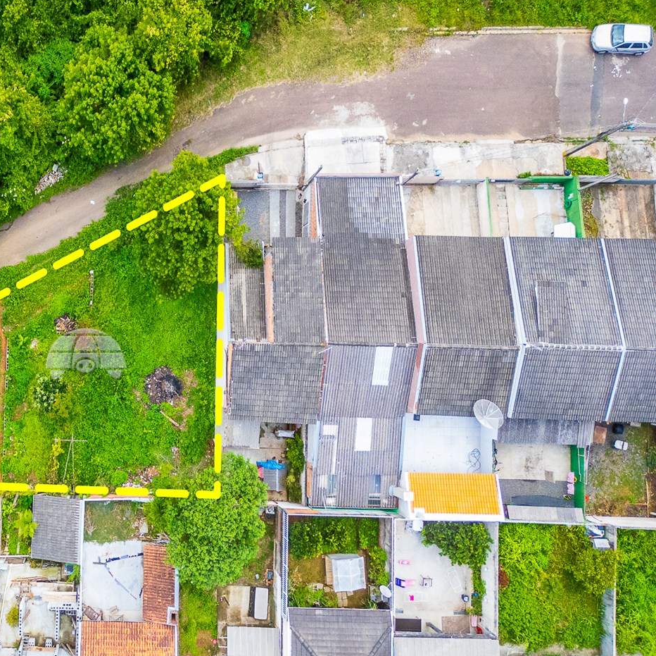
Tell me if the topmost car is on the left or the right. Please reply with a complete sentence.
You can find the topmost car on the right side of the picture.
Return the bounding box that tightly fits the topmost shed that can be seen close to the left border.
[31,489,83,567]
